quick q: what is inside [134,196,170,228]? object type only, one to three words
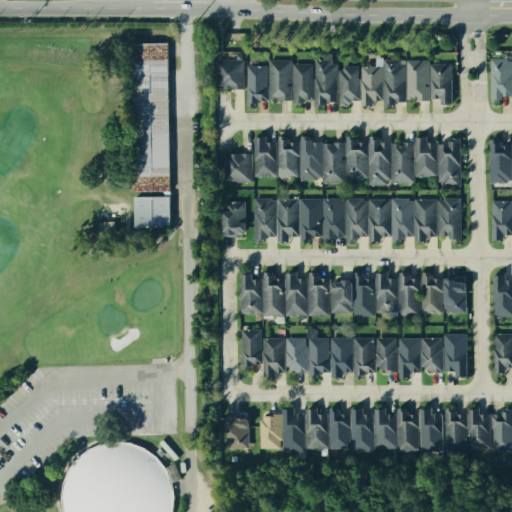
shed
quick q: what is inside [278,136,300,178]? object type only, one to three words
house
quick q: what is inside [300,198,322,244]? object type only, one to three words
house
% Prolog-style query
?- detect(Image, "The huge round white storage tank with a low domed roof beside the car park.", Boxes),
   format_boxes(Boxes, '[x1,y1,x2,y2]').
[60,442,175,512]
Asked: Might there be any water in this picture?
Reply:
No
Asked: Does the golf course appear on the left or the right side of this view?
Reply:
left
